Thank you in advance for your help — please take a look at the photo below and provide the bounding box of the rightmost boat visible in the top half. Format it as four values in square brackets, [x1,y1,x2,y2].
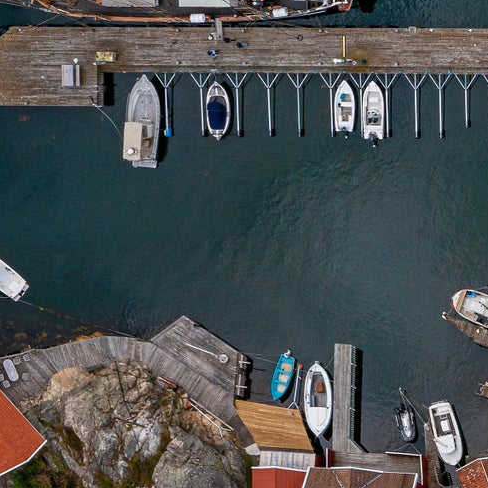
[360,81,386,145]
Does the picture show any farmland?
No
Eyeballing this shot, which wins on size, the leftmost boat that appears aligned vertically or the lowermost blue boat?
the leftmost boat that appears aligned vertically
